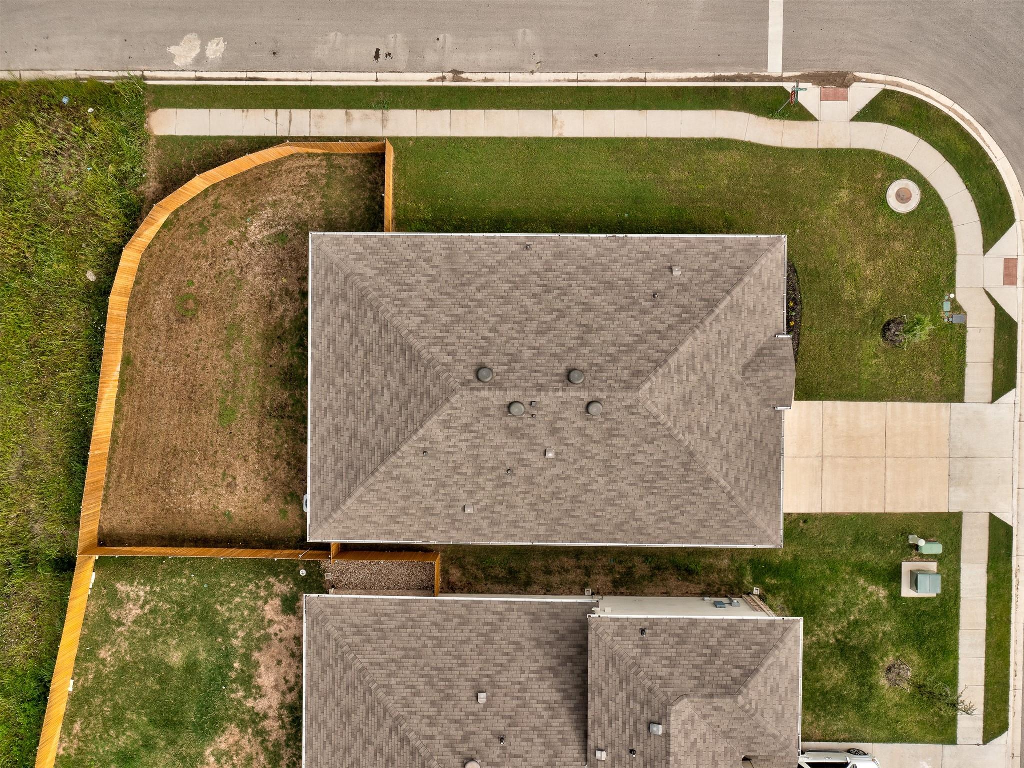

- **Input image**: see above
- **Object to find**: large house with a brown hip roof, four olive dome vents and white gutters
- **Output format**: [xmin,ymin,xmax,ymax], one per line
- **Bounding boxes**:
[308,233,797,546]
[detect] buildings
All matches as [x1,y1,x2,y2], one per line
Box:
[308,233,797,546]
[302,584,803,768]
